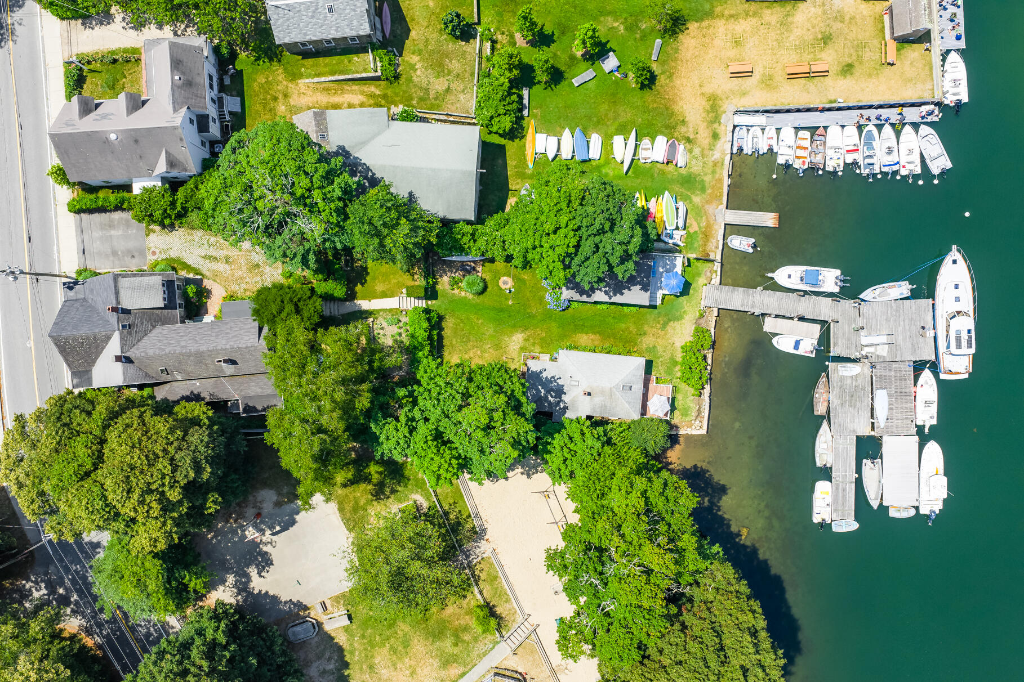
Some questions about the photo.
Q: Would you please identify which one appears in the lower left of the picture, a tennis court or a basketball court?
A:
basketball court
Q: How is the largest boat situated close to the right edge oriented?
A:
up and down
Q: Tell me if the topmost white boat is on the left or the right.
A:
right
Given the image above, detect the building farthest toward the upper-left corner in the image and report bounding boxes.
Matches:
[48,36,241,196]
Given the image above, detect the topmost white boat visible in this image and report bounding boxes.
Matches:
[942,48,967,118]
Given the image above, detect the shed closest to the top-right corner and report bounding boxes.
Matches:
[877,0,932,48]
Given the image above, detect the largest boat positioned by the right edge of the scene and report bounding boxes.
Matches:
[933,241,979,379]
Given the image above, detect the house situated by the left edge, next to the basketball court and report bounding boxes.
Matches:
[49,272,287,416]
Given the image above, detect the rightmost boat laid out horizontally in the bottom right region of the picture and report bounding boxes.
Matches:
[887,506,916,518]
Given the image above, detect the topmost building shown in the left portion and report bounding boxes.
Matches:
[265,0,376,53]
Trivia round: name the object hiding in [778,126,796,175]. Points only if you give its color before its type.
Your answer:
white boat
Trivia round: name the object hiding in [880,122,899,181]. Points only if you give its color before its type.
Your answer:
white boat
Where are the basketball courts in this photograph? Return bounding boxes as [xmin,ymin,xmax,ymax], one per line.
[194,489,352,622]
